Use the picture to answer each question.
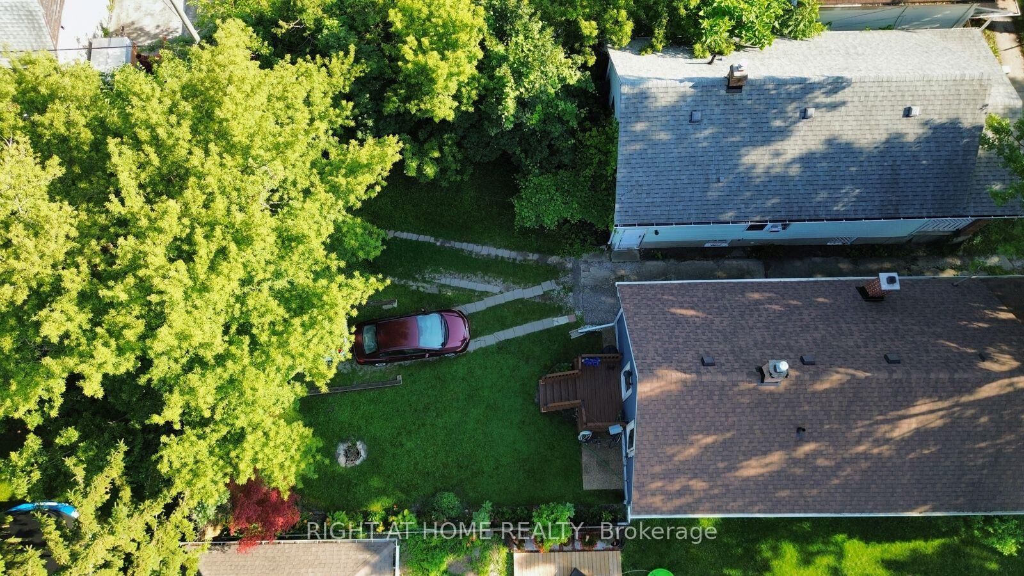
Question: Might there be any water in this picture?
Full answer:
No, the picture contains no water.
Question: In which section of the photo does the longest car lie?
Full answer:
Look in the center portion of the view to spot the longest car.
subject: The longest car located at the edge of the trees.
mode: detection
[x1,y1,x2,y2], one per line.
[354,309,472,370]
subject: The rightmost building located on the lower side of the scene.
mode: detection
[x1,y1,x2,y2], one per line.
[578,267,1024,525]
